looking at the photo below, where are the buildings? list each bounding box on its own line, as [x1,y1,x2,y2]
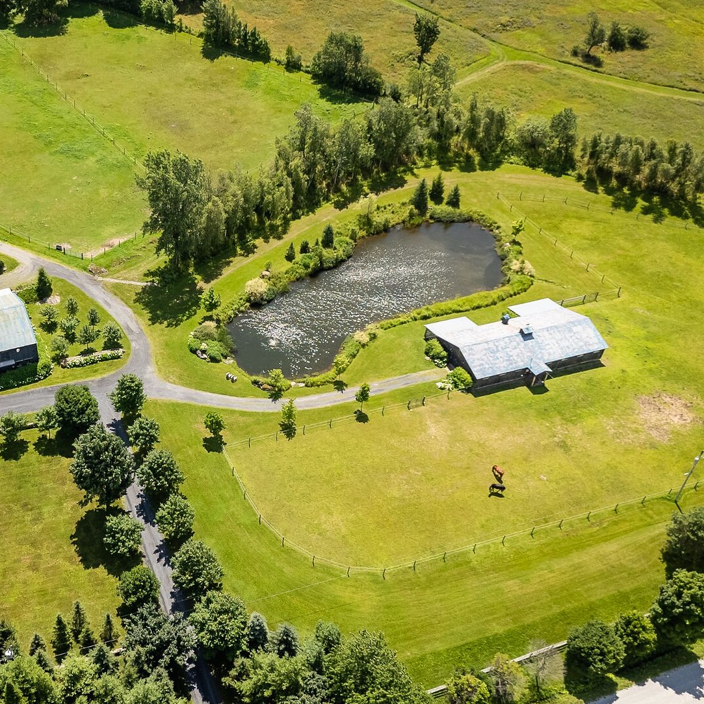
[424,298,609,391]
[0,288,38,374]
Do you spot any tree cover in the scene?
Yes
